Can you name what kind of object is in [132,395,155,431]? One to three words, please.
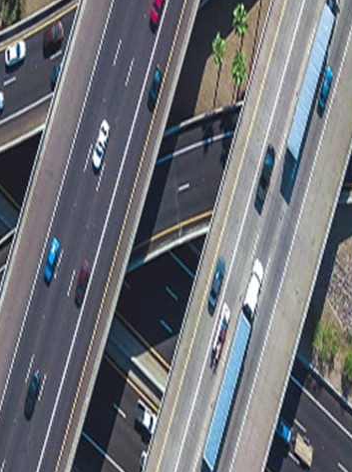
truck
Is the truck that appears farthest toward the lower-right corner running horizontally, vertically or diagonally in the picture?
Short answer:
diagonally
